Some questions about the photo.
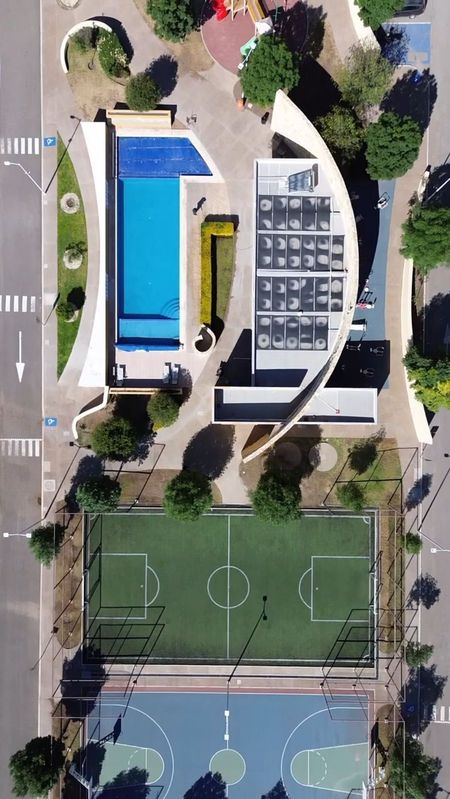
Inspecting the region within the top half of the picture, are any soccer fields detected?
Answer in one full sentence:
No, I can find no soccer field within the top half of the picture.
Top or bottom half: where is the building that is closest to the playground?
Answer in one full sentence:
The building that is closest to the playground is in the top half of the image.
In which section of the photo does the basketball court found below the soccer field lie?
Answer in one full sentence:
The basketball court found below the soccer field sits in the bottom section of the image.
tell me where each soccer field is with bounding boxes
[83,510,377,667]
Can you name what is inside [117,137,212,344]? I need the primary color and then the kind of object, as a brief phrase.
blue swimming pool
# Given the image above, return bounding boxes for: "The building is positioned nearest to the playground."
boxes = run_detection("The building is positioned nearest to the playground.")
[251,159,346,388]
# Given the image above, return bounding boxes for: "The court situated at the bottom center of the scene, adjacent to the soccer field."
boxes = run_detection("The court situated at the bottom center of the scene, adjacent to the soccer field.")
[84,687,371,799]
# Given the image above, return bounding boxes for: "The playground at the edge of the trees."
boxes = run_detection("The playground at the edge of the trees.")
[200,0,311,70]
